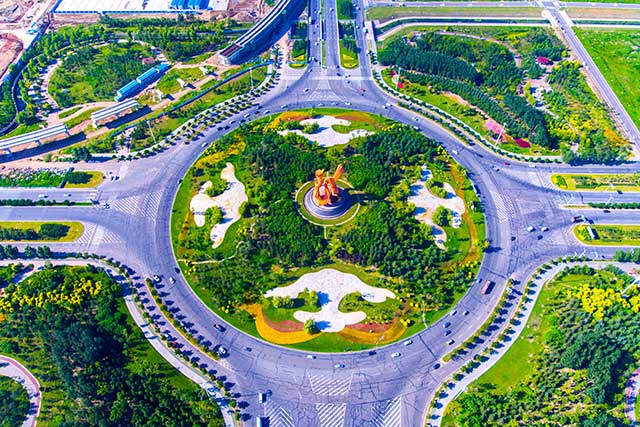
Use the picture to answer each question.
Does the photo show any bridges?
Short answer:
Yes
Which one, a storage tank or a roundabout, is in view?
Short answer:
roundabout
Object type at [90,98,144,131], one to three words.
bridge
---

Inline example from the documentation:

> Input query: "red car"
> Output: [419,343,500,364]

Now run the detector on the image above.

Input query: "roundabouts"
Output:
[141,94,503,388]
